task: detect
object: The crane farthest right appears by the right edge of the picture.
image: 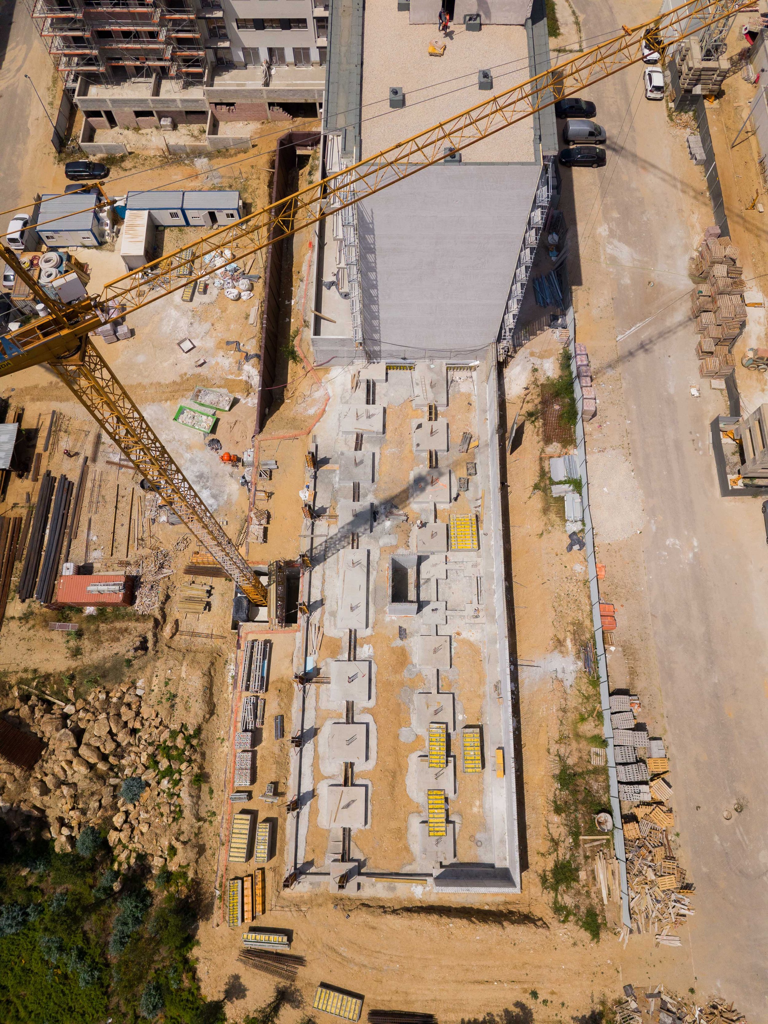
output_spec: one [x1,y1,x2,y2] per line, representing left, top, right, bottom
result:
[720,405,768,493]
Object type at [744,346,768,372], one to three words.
truck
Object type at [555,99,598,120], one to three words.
car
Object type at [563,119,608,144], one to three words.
car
